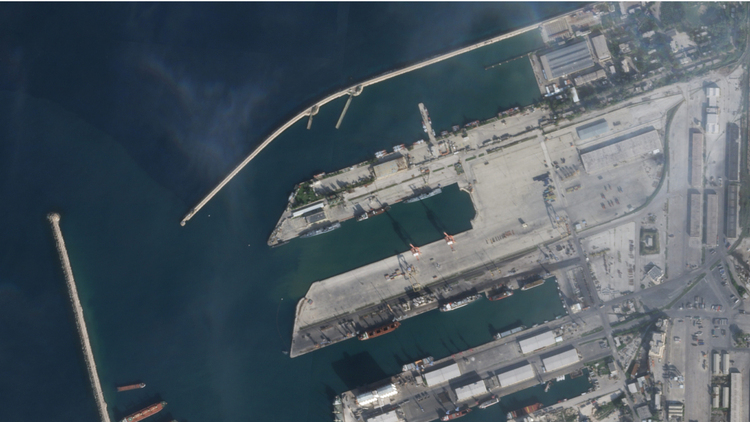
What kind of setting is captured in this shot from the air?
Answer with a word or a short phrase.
port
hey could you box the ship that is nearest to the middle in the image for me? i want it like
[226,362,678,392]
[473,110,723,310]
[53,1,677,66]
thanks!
[357,205,391,221]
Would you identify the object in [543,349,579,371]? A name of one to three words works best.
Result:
building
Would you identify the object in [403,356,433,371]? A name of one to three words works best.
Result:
ship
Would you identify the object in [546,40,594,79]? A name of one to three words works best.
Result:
building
